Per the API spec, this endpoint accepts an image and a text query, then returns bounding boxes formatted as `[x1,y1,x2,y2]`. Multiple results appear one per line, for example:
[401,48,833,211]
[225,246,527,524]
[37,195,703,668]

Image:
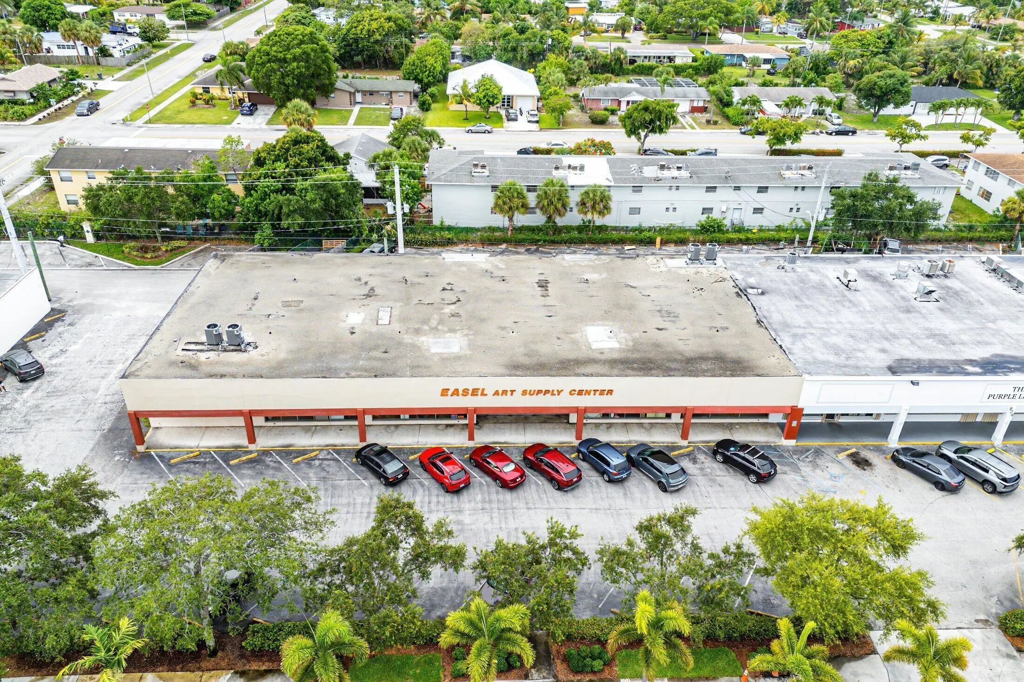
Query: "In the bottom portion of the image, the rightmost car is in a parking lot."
[940,442,1023,497]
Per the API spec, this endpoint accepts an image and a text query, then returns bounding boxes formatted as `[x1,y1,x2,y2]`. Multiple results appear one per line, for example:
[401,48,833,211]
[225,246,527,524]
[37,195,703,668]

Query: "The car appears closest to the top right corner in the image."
[927,154,962,168]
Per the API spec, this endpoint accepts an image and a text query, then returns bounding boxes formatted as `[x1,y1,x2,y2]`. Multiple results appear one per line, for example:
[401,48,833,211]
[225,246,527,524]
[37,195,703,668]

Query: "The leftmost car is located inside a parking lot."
[0,351,45,383]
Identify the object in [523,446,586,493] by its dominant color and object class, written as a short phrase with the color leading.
red car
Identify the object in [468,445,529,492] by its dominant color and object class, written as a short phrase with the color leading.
red car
